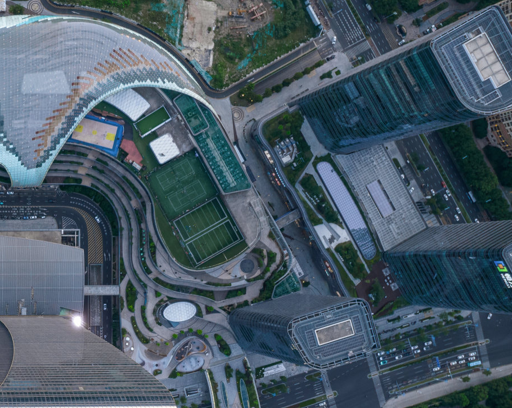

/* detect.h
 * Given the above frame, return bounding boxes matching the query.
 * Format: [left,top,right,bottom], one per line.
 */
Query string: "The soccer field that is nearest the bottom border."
[186,220,240,265]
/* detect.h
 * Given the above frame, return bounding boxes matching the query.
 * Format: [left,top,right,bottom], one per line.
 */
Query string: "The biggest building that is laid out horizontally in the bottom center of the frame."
[231,296,383,369]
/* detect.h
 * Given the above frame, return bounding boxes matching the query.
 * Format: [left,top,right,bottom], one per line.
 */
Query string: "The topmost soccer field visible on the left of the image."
[172,197,227,241]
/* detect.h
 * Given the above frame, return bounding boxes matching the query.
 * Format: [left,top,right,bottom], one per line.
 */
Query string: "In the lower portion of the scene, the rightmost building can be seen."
[385,205,512,314]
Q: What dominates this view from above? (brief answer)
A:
buildings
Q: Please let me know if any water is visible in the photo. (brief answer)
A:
No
